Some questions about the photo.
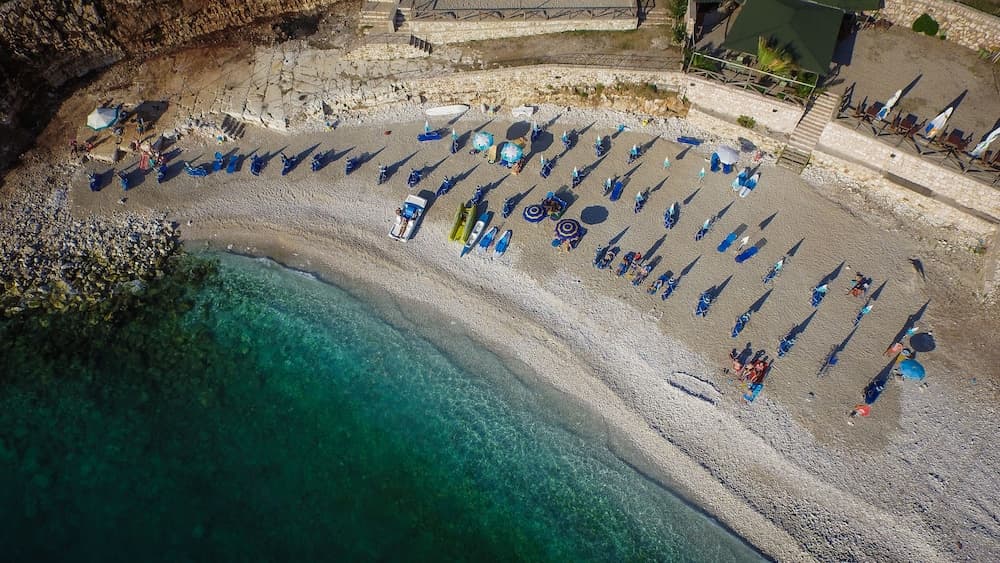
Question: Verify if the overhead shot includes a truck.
No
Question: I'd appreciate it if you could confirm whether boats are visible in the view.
Yes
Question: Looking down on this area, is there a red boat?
No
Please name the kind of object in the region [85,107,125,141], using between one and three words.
umbrella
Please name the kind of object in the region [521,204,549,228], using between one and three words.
umbrella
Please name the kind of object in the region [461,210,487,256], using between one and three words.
boat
